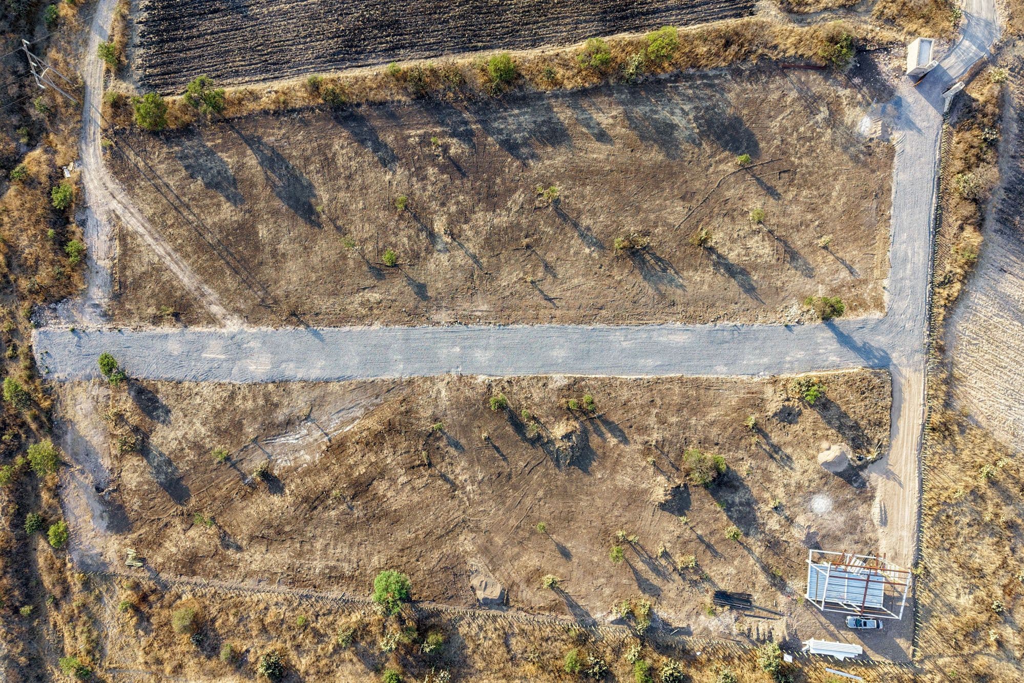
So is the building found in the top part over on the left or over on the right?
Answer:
right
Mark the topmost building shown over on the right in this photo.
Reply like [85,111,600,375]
[907,37,936,75]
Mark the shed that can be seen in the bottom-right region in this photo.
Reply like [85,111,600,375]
[801,549,911,620]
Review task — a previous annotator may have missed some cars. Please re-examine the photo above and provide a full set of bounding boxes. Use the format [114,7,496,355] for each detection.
[845,614,884,632]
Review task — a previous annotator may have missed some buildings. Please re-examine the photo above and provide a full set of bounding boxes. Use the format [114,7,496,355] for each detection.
[907,37,936,75]
[801,549,911,620]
